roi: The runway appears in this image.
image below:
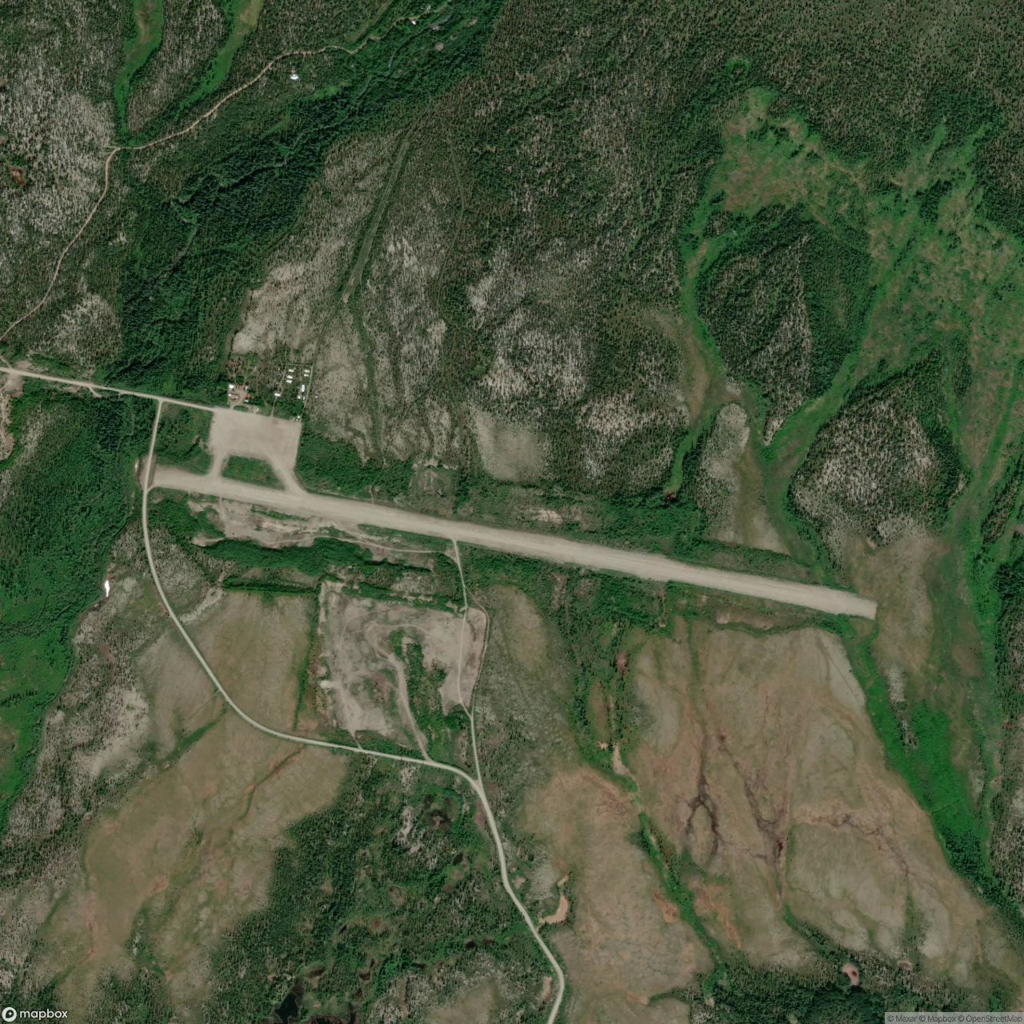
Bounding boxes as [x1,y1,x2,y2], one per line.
[151,410,878,618]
